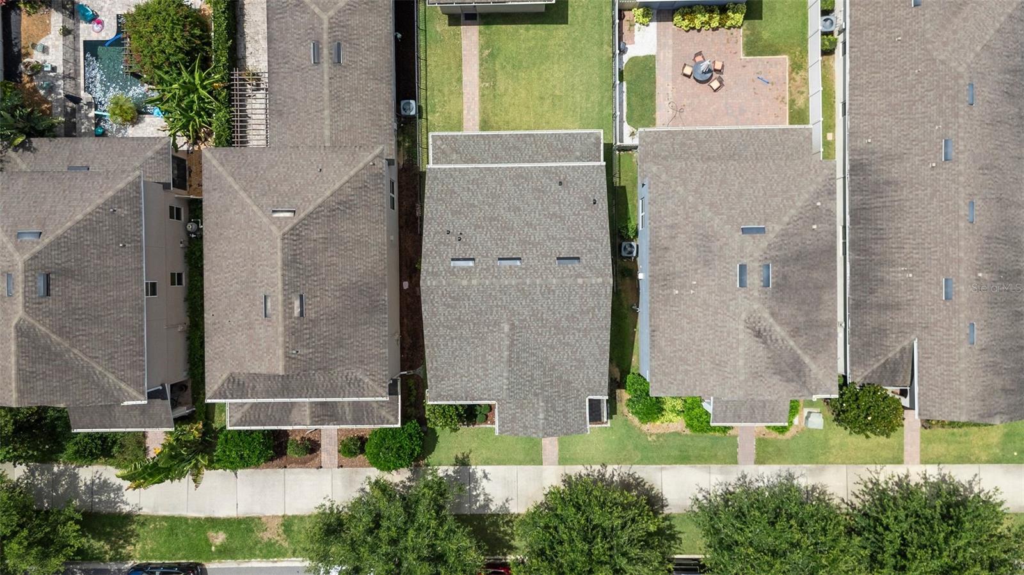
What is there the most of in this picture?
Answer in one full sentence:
What you mostly see from above here is buildings.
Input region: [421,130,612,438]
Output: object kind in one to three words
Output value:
house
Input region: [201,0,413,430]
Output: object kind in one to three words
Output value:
house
